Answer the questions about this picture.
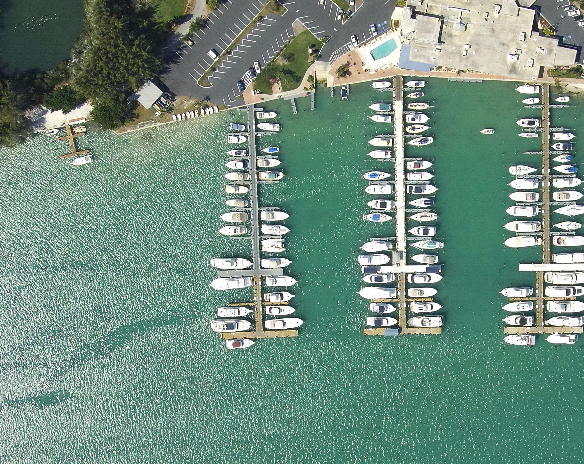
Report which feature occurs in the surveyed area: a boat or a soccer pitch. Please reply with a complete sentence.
Visible in the photo is a boat.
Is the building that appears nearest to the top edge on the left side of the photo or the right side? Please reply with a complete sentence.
It is on the right.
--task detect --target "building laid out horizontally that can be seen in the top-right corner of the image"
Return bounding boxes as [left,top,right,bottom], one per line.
[398,0,577,82]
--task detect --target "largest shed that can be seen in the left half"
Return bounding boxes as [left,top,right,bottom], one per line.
[135,85,163,109]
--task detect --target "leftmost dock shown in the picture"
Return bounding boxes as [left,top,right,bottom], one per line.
[56,125,90,160]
